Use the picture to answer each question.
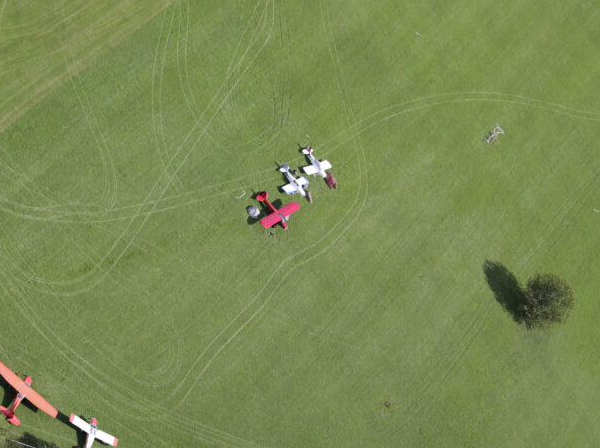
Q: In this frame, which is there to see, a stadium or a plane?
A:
plane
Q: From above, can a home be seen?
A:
No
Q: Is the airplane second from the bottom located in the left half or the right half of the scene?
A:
left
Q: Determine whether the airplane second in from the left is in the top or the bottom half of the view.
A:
bottom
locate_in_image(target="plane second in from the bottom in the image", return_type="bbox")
[0,361,59,423]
